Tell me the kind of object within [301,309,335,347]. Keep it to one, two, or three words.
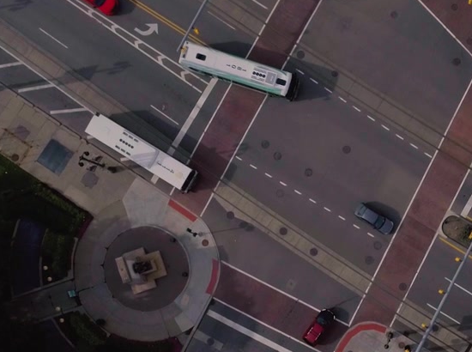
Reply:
car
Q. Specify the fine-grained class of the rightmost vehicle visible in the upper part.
bus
